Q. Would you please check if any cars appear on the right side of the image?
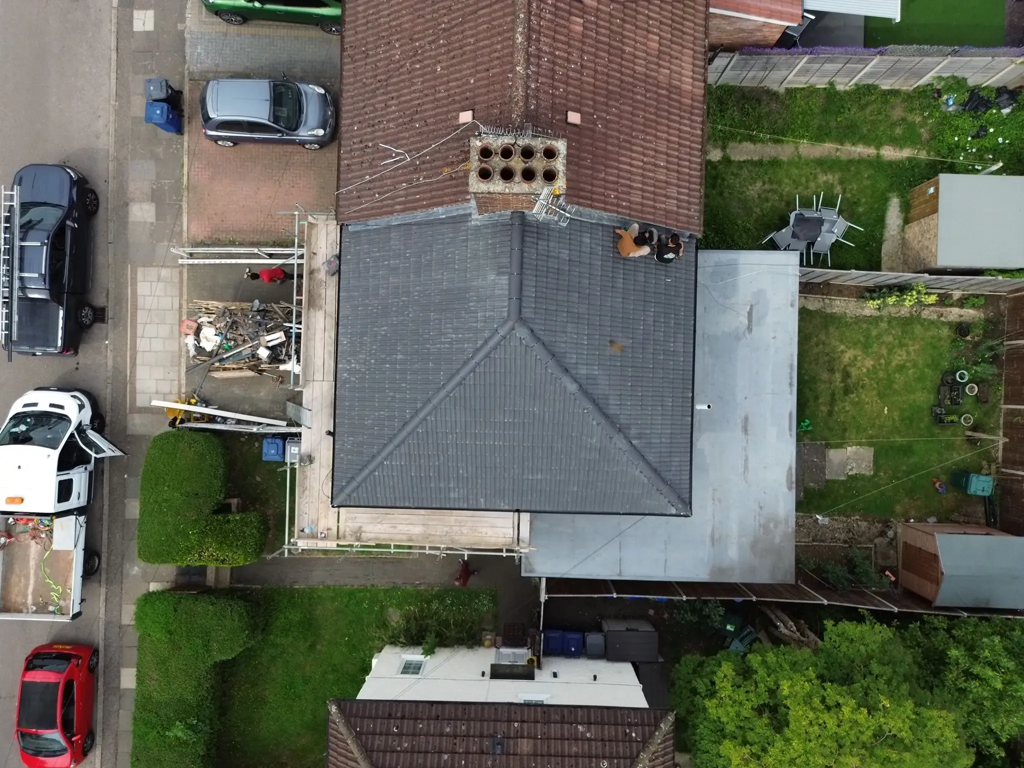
No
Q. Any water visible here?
No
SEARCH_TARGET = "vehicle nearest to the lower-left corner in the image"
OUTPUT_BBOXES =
[2,637,96,768]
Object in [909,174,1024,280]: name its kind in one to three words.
shed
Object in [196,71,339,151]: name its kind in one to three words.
car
